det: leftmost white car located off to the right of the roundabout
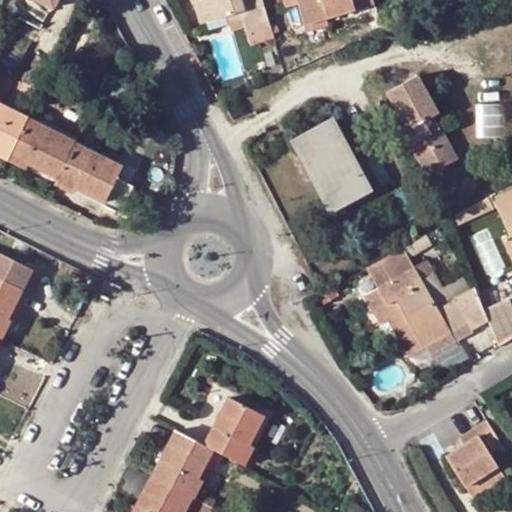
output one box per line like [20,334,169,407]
[294,274,306,292]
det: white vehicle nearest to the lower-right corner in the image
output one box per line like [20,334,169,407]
[466,406,480,423]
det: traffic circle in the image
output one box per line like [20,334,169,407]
[163,211,257,305]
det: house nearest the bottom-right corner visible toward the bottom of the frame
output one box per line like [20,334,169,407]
[446,421,504,496]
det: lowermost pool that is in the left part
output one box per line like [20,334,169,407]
[149,167,164,182]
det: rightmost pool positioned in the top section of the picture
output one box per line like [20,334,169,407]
[287,6,302,26]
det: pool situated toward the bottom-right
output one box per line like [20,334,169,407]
[371,362,405,391]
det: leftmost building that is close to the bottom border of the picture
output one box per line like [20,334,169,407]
[134,431,212,512]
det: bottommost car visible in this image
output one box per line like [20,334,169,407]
[18,494,40,510]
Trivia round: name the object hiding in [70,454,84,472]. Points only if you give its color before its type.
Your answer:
gray car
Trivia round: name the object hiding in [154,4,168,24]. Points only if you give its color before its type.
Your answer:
white car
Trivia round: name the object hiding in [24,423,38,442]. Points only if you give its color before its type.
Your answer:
white vehicle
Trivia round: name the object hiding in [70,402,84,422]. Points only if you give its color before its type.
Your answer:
white vehicle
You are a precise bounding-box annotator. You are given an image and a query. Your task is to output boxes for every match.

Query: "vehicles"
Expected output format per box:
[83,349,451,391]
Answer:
[50,450,64,470]
[109,382,122,401]
[55,369,68,388]
[154,4,168,24]
[24,423,38,442]
[478,92,500,102]
[466,406,480,423]
[66,342,78,360]
[132,338,144,356]
[294,274,306,292]
[18,494,40,510]
[119,360,131,377]
[70,402,84,422]
[44,282,52,298]
[454,414,470,434]
[70,454,84,472]
[60,426,74,444]
[92,367,107,386]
